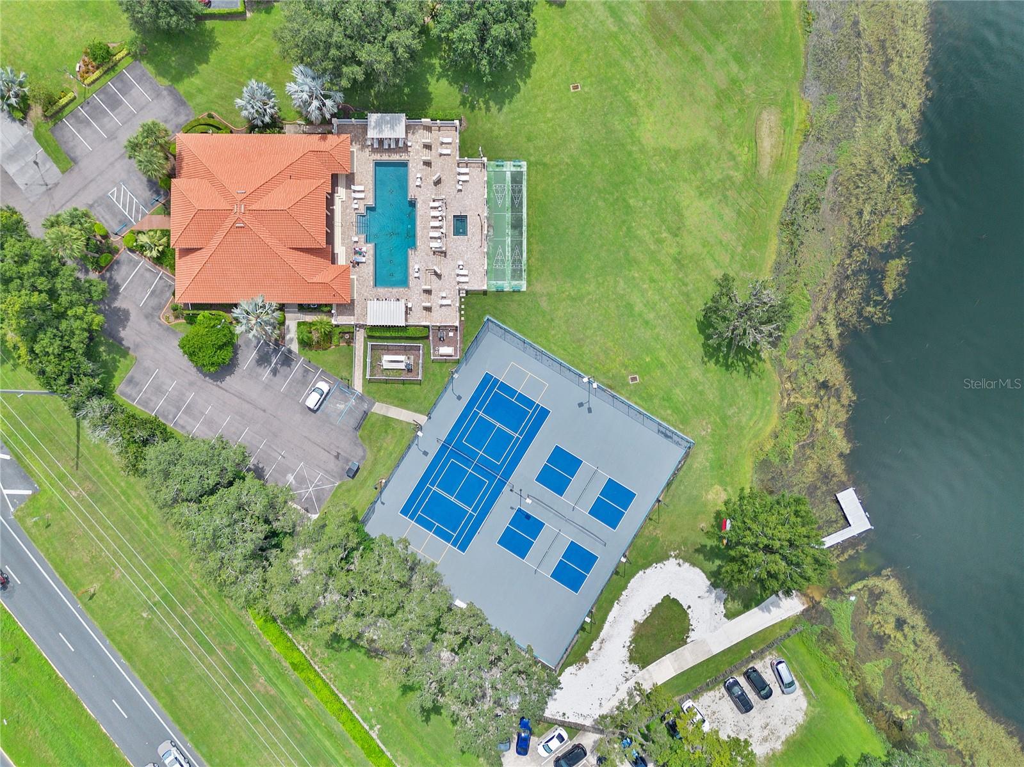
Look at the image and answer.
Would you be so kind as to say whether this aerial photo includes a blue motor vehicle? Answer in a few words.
Yes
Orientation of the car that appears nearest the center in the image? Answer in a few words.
on a diagonal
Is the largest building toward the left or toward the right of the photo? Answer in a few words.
left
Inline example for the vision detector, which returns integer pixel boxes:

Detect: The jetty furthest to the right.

[821,486,875,547]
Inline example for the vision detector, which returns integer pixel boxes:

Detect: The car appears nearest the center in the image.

[305,380,331,411]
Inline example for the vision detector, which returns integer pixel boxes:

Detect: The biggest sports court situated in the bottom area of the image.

[364,320,691,671]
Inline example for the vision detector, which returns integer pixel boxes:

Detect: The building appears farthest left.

[170,132,356,303]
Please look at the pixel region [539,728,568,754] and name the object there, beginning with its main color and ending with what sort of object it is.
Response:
white car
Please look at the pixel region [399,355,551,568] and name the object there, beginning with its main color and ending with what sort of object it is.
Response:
blue tennis court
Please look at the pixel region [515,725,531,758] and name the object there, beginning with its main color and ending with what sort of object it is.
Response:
blue car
